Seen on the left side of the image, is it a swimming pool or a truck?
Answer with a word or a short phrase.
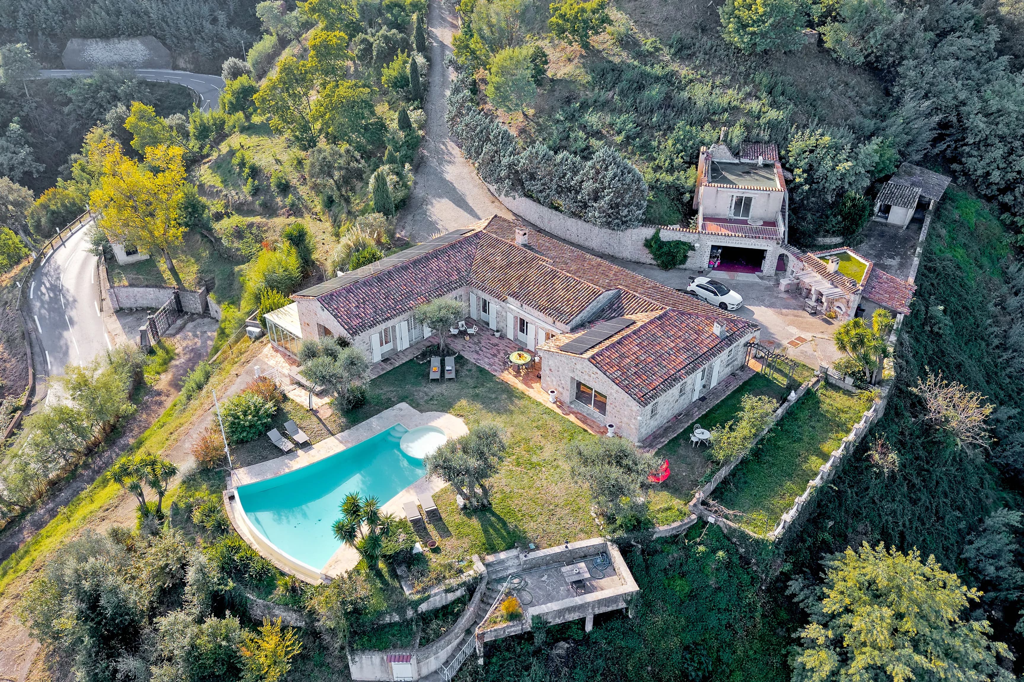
swimming pool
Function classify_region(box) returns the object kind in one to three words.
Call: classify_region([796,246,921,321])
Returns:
building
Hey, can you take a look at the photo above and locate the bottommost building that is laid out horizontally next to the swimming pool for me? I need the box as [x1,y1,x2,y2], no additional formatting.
[262,214,762,446]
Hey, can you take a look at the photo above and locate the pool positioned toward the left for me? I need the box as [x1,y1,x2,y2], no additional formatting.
[211,402,466,604]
